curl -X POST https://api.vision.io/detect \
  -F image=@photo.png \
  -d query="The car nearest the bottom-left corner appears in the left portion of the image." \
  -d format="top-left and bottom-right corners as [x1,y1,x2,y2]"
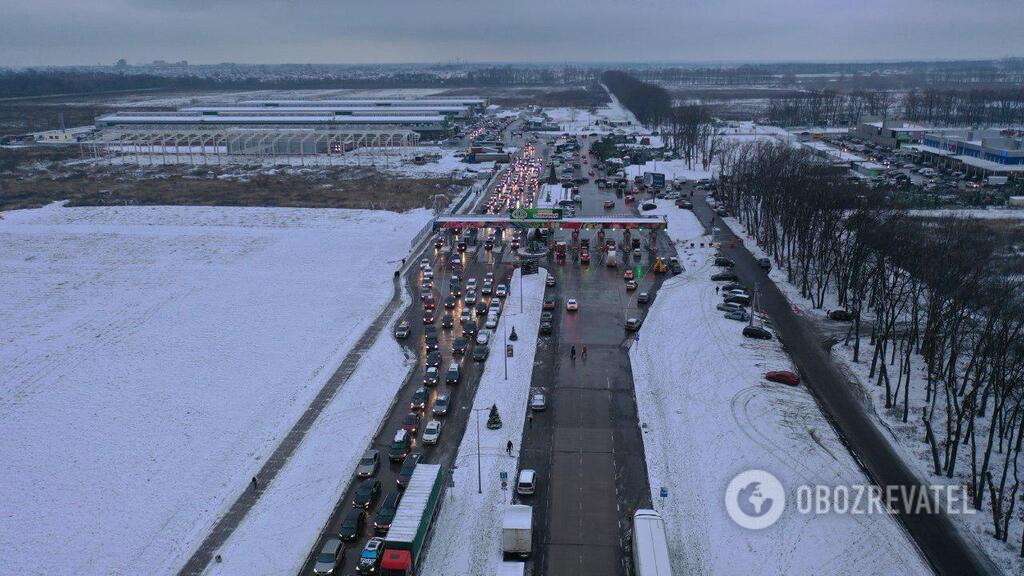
[315,536,347,573]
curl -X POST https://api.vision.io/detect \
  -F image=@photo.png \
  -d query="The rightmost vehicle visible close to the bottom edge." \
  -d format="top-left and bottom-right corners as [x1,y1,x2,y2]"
[627,508,671,576]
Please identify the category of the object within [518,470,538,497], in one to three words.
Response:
car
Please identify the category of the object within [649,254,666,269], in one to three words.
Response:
work vehicle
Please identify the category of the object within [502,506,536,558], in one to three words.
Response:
truck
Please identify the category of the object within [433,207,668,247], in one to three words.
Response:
toll station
